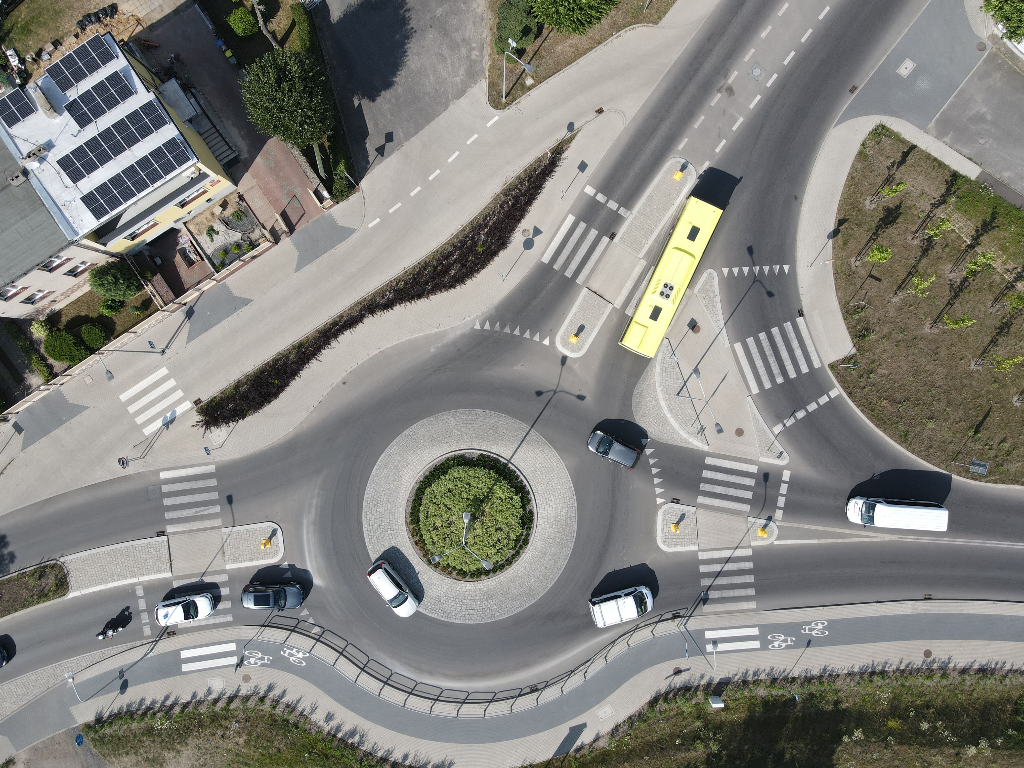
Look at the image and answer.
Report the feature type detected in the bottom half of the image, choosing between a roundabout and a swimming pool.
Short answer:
roundabout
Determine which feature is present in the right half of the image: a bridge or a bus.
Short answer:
bus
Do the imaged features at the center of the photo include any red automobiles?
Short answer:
No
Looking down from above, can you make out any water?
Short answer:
No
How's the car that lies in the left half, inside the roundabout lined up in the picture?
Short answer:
on a diagonal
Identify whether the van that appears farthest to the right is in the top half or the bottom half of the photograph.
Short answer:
bottom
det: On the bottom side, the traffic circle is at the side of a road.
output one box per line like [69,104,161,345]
[304,351,635,681]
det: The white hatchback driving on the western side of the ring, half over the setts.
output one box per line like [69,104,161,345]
[367,561,416,619]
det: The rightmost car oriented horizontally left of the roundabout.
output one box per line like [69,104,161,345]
[239,580,307,613]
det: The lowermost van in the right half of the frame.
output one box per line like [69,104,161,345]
[592,585,653,625]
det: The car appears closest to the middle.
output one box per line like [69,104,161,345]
[584,429,644,472]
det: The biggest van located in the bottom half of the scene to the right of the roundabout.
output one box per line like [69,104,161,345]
[846,497,946,531]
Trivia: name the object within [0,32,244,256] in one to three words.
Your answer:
house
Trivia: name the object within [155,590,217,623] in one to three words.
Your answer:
car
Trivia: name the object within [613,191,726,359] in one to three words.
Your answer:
bus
